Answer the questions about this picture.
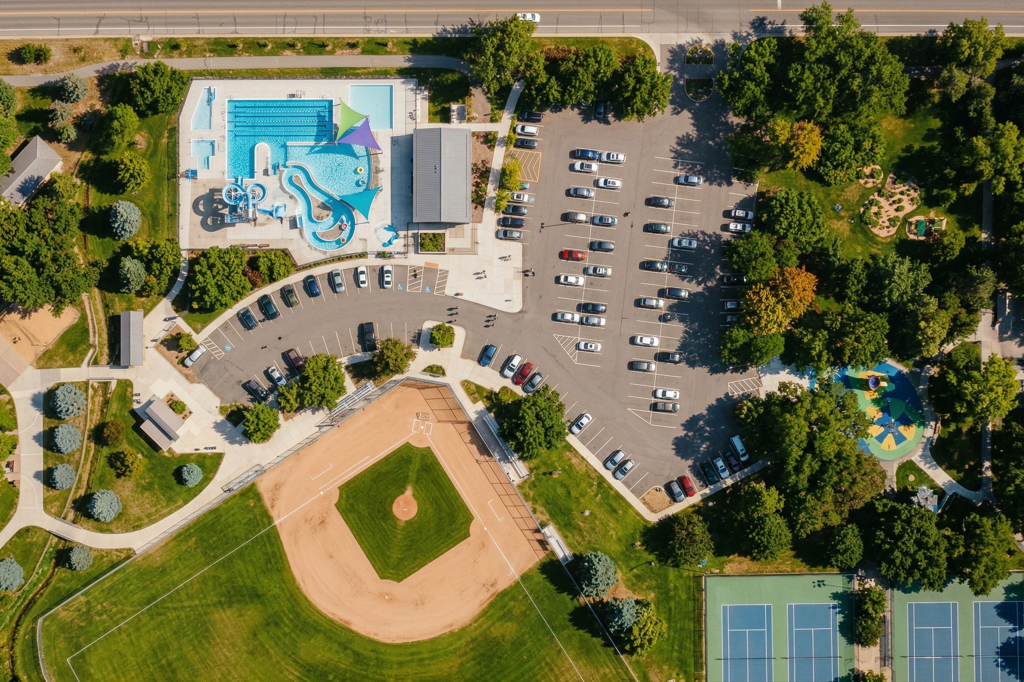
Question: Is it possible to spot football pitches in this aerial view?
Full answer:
No, the frame has no football pitch in it.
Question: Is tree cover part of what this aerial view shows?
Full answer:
Yes, the picture does contain tree cover.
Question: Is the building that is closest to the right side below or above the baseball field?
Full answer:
Within the scene, the building that is closest to the right side can be found above the baseball field.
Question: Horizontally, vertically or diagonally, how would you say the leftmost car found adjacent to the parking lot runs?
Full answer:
The leftmost car found adjacent to the parking lot runs diagonally in the image.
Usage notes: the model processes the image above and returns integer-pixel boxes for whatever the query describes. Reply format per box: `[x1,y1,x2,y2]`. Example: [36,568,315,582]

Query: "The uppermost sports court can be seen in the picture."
[0,304,81,365]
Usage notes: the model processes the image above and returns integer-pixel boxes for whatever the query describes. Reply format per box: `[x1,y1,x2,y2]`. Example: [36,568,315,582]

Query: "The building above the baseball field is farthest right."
[413,127,471,230]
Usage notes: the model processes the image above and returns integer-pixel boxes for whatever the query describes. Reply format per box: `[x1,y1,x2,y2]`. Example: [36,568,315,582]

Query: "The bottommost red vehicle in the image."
[679,474,696,498]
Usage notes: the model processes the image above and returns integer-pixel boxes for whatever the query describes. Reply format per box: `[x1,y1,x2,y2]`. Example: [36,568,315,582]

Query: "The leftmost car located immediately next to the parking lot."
[186,345,206,367]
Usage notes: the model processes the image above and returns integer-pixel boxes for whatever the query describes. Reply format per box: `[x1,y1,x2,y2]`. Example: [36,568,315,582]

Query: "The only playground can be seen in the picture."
[808,360,926,462]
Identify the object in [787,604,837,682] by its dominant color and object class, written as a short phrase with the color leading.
blue tennis court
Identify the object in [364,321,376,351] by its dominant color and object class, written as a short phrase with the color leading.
black vehicle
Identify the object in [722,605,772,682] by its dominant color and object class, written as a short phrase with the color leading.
blue tennis court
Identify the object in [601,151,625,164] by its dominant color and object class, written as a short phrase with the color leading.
white vehicle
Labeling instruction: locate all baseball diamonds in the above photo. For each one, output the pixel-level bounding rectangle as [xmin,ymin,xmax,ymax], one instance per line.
[37,380,637,682]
